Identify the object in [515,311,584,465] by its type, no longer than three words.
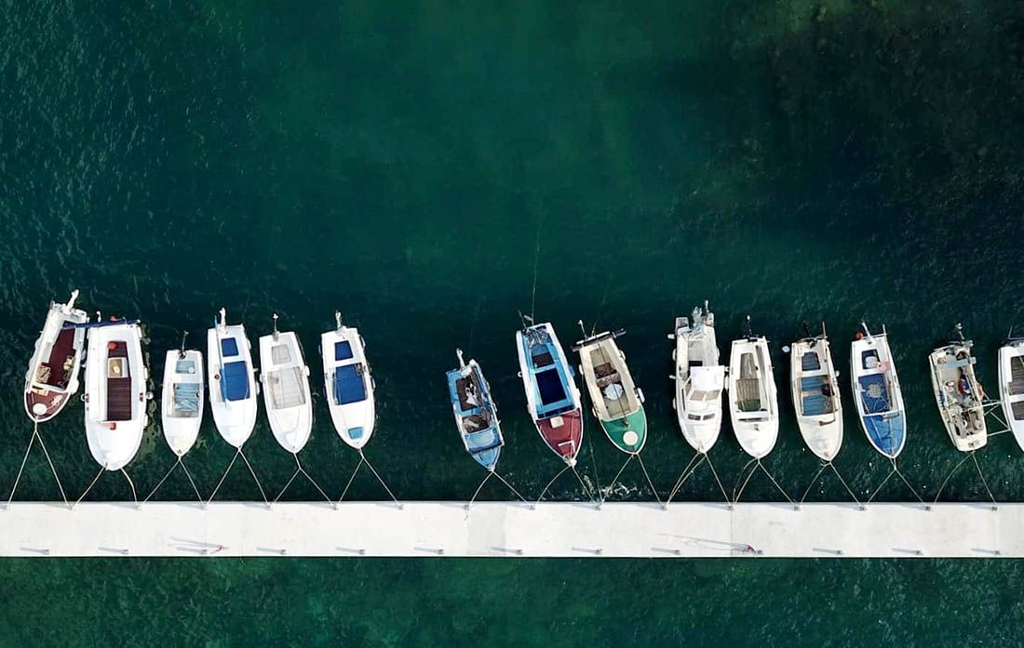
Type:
boat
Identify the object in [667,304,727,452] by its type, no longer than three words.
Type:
boat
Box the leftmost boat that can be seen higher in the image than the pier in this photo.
[23,290,87,424]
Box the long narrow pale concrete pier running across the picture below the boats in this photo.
[0,502,1024,558]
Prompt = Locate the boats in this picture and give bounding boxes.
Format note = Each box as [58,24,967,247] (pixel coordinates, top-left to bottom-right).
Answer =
[446,346,505,472]
[572,319,648,454]
[928,325,988,453]
[515,311,584,465]
[997,326,1024,458]
[61,310,154,473]
[258,314,313,455]
[23,290,87,424]
[667,304,727,452]
[790,326,844,463]
[317,309,377,450]
[724,314,780,459]
[850,321,908,461]
[206,306,261,449]
[160,330,205,458]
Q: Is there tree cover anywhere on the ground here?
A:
No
